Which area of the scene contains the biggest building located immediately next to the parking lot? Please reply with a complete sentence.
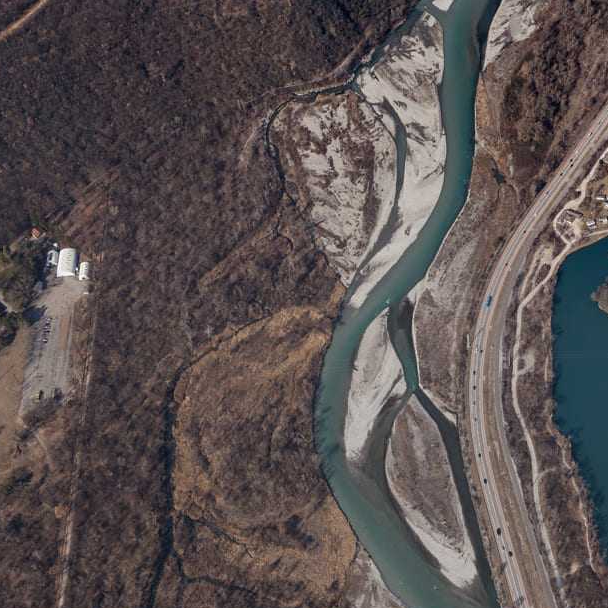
The biggest building located immediately next to the parking lot is in the left part of the image.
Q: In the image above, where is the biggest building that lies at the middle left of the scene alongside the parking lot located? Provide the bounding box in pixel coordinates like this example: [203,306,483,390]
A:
[56,249,77,277]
